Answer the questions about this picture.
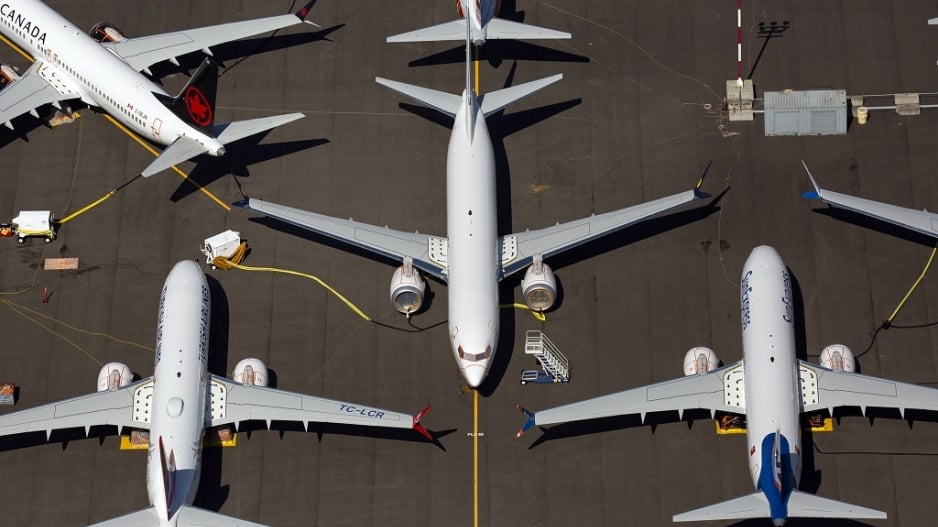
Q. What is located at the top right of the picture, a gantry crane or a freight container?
freight container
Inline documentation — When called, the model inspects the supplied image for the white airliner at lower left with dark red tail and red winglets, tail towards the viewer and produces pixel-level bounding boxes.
[0,259,431,527]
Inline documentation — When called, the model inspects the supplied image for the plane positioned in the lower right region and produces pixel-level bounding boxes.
[518,246,938,527]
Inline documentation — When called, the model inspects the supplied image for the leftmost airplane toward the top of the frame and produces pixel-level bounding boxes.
[0,0,321,177]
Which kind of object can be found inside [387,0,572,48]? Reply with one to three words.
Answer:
airplane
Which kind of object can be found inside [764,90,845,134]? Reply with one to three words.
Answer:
shipping container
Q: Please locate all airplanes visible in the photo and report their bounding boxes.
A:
[0,259,431,527]
[233,3,711,390]
[387,0,572,48]
[518,246,938,527]
[0,0,321,177]
[803,162,938,237]
[928,16,938,22]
